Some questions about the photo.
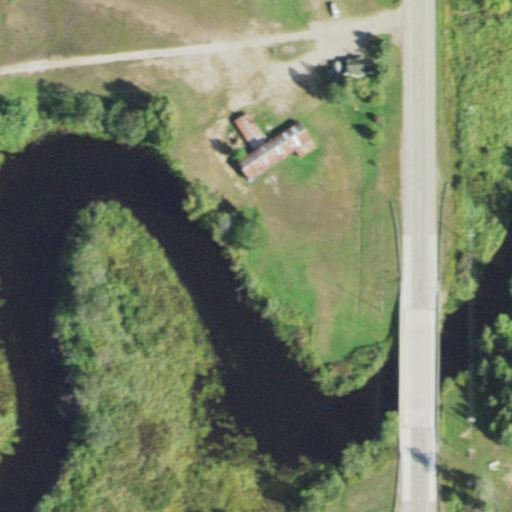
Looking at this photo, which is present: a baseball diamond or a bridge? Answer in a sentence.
Of the two, only a bridge appears.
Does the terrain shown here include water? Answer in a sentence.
Yes, there's water in this view.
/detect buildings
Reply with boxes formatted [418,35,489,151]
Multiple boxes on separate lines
[235,117,314,179]
[343,60,367,82]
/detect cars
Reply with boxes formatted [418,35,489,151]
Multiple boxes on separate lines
[334,60,342,74]
[331,2,339,18]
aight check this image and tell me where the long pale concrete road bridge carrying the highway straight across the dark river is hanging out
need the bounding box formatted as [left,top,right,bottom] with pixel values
[398,302,440,431]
